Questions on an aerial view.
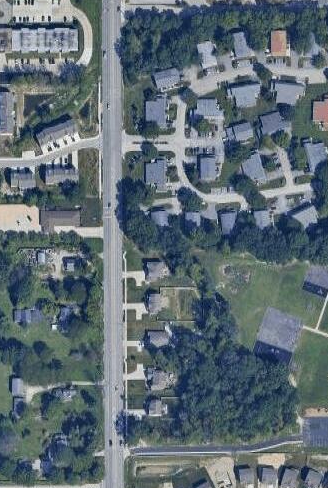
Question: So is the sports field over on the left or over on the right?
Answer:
right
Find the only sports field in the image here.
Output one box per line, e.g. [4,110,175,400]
[196,251,328,407]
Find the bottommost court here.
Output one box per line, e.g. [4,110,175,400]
[253,307,302,364]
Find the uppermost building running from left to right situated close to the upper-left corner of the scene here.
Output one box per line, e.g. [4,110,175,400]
[0,27,78,52]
